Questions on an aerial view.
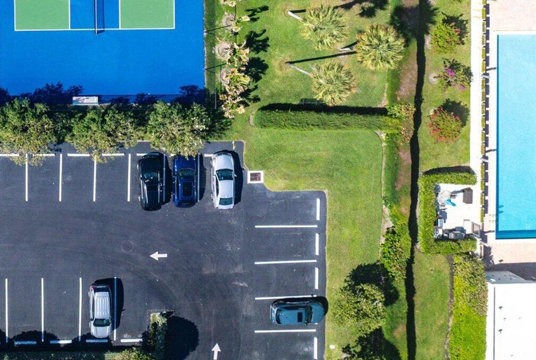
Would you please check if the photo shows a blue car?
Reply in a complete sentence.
Yes, you can see a blue car in this photo.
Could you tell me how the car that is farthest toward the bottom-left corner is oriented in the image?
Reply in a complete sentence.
In this picture, the car that is farthest toward the bottom-left corner is oriented up and down.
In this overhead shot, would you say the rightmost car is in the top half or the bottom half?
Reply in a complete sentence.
The rightmost car sits in the bottom half of the picture.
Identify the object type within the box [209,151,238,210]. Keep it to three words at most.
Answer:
car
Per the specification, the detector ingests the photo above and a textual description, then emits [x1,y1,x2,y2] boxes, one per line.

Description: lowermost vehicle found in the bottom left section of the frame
[88,282,115,338]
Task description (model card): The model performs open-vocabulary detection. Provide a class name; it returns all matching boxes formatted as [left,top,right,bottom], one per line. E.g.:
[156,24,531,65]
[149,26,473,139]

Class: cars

[88,282,115,338]
[170,152,200,209]
[136,154,165,211]
[209,151,238,210]
[267,298,326,329]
